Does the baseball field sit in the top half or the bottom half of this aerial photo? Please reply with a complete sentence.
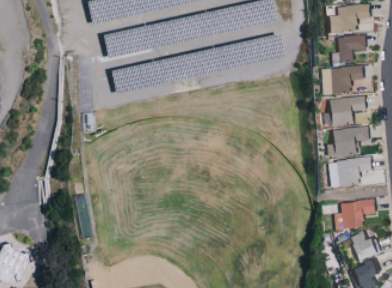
The bottom half of the photo is where the baseball field is.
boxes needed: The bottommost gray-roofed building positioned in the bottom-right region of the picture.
[354,256,382,288]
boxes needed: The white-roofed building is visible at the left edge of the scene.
[0,243,30,283]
